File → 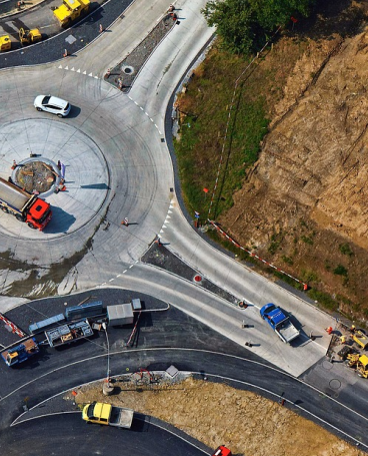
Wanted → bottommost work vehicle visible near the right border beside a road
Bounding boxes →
[335,346,368,377]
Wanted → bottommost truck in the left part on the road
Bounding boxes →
[81,401,136,430]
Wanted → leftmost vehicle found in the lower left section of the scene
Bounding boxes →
[0,334,42,363]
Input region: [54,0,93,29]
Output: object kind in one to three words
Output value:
work vehicle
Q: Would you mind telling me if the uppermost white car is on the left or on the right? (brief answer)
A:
left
